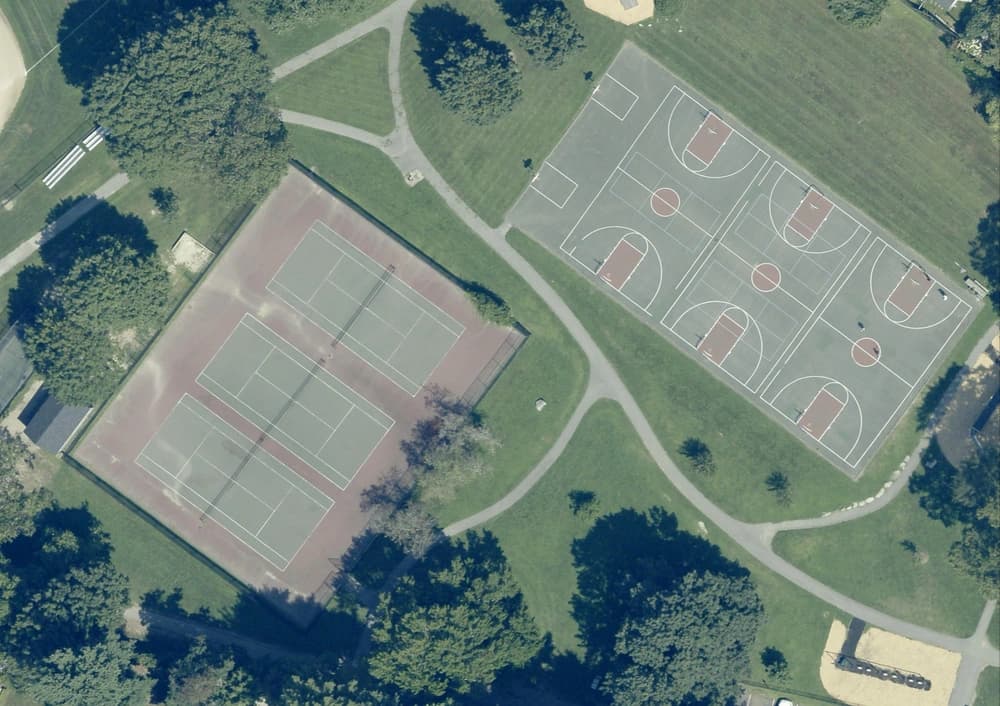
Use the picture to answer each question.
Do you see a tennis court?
Yes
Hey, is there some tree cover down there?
Yes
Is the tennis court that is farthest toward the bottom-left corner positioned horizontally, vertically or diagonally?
diagonally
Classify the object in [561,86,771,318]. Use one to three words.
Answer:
basketball court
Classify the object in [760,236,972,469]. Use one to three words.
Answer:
basketball court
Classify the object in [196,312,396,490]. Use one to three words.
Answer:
tennis court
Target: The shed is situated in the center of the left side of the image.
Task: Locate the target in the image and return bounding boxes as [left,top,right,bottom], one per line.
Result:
[24,388,90,453]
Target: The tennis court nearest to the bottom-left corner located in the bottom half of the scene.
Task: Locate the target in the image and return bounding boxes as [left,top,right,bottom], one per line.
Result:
[136,393,335,571]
